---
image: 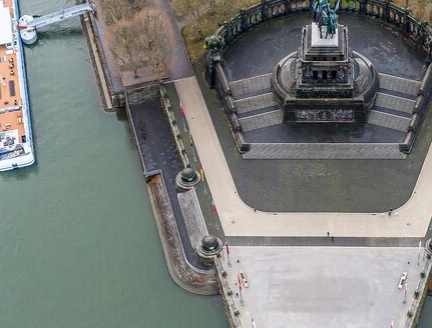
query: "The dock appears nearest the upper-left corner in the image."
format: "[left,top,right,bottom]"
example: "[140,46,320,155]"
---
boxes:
[18,16,40,39]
